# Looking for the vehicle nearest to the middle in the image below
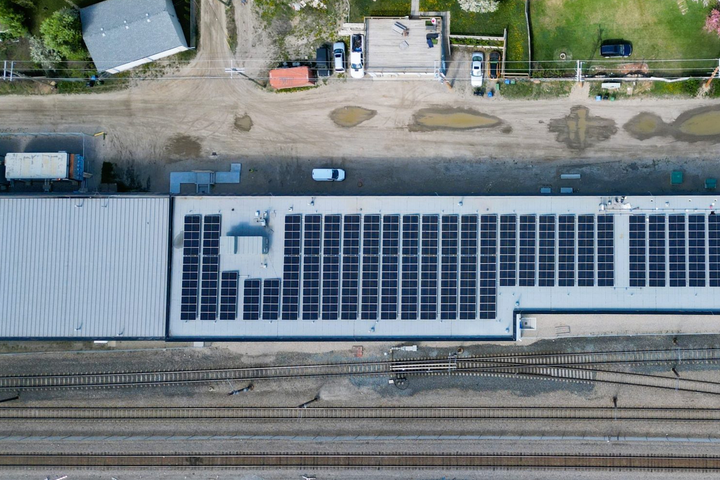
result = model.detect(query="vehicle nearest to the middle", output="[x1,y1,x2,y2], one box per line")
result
[310,168,345,182]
